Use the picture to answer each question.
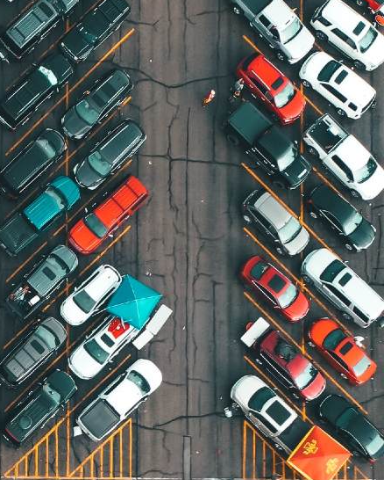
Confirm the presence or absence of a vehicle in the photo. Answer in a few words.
Yes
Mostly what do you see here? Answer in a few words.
paved ground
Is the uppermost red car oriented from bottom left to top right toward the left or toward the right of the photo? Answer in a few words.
left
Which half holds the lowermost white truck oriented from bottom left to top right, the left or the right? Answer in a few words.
left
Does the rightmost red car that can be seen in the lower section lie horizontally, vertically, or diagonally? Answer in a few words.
diagonally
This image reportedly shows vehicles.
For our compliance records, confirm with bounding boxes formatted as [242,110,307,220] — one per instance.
[0,176,79,260]
[0,0,76,63]
[70,115,147,191]
[0,320,65,390]
[316,394,384,462]
[248,323,328,404]
[237,255,308,324]
[223,98,309,187]
[74,360,160,444]
[229,377,310,457]
[68,174,148,254]
[0,54,72,132]
[234,52,305,125]
[309,0,381,72]
[304,253,384,325]
[68,315,139,379]
[301,52,377,121]
[240,190,306,256]
[301,113,384,203]
[3,373,72,443]
[227,0,313,63]
[1,243,80,324]
[58,263,123,328]
[56,0,137,68]
[305,317,377,387]
[304,183,375,254]
[0,130,65,200]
